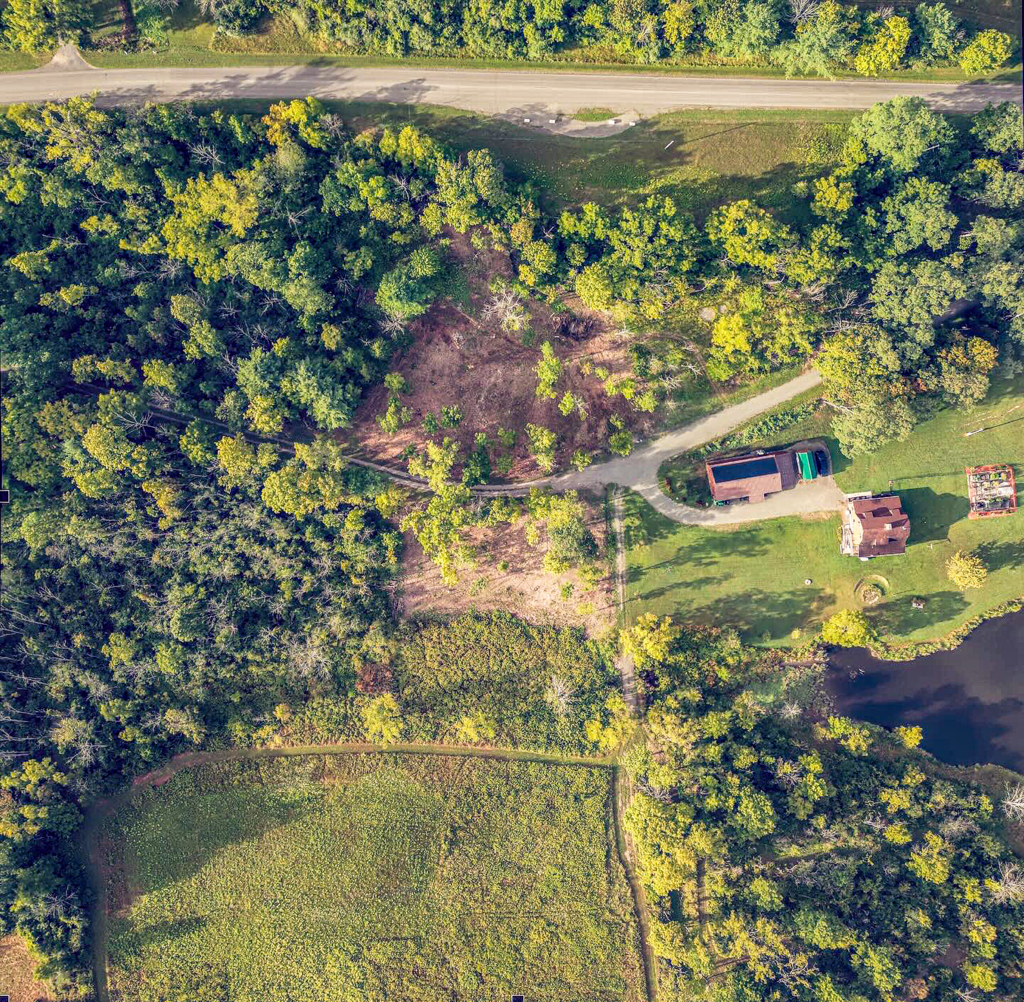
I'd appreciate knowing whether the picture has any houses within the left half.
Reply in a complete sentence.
No, I can find no house within the left half.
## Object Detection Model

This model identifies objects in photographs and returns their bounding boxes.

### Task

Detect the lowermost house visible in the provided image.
[840,493,910,563]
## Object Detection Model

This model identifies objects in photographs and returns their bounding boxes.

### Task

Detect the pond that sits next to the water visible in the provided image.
[828,594,1024,772]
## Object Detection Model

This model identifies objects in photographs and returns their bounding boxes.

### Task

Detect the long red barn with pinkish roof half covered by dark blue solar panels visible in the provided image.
[707,450,780,505]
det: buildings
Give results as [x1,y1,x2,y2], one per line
[840,493,910,563]
[707,450,780,505]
